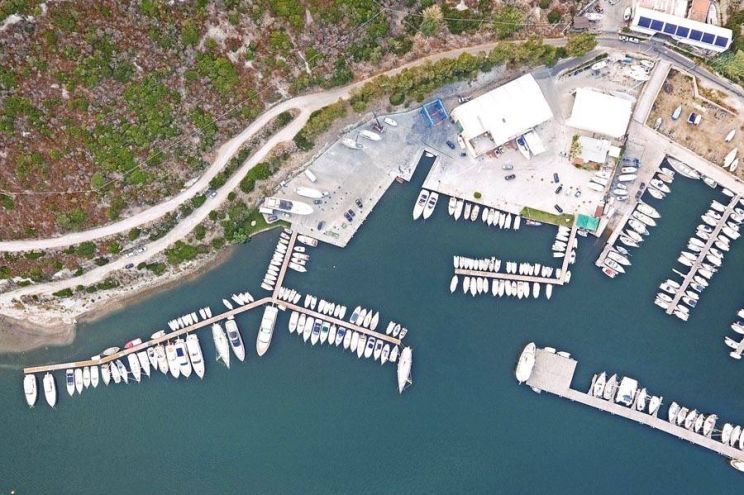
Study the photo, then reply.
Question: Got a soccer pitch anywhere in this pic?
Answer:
No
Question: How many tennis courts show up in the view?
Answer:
0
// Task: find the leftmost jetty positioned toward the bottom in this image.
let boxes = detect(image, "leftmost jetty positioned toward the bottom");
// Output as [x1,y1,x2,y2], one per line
[23,230,401,374]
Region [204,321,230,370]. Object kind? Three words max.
boat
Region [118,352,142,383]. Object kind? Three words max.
boat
